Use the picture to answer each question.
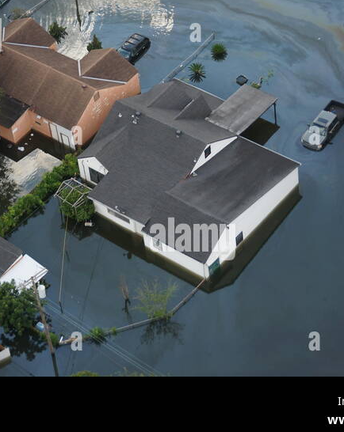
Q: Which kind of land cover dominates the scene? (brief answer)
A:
water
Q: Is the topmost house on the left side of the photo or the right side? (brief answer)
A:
left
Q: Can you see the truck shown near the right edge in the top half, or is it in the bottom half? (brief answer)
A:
top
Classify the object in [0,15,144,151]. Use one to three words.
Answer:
house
